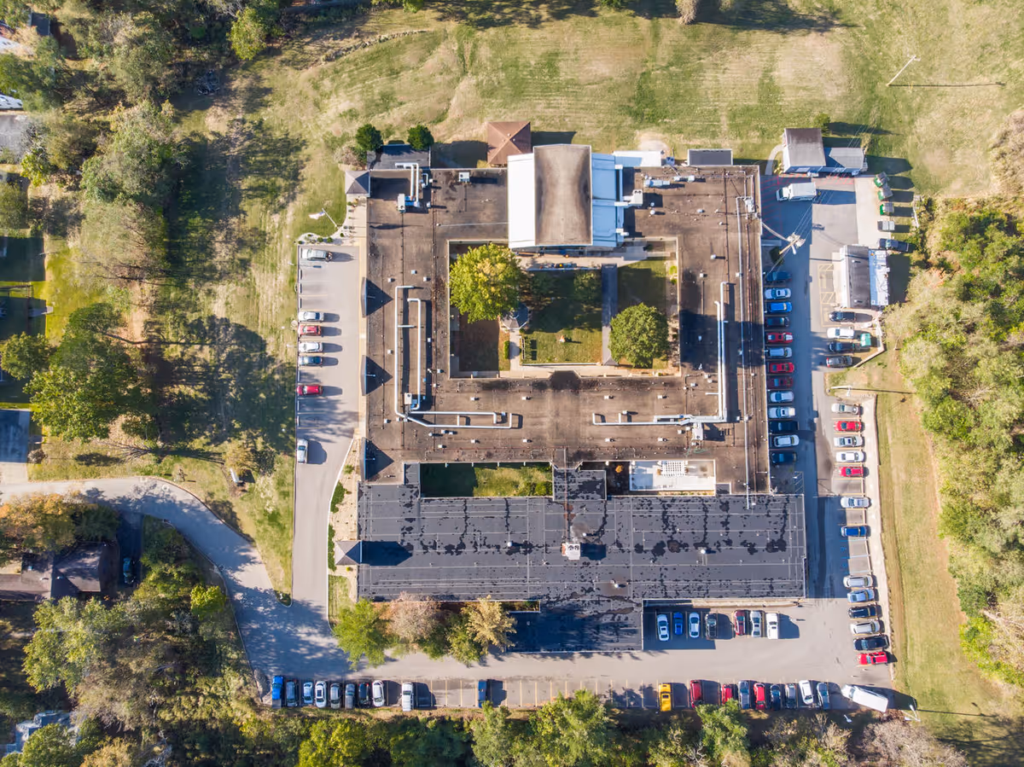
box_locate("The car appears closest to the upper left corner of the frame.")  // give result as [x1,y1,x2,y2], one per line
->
[303,248,333,260]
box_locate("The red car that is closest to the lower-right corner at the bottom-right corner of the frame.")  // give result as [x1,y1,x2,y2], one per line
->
[858,651,886,666]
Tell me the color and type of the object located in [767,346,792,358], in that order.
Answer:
blue vehicle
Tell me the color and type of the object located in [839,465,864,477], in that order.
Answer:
red vehicle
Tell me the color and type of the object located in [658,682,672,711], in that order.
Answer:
yellow car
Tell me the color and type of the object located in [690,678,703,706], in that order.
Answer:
red vehicle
